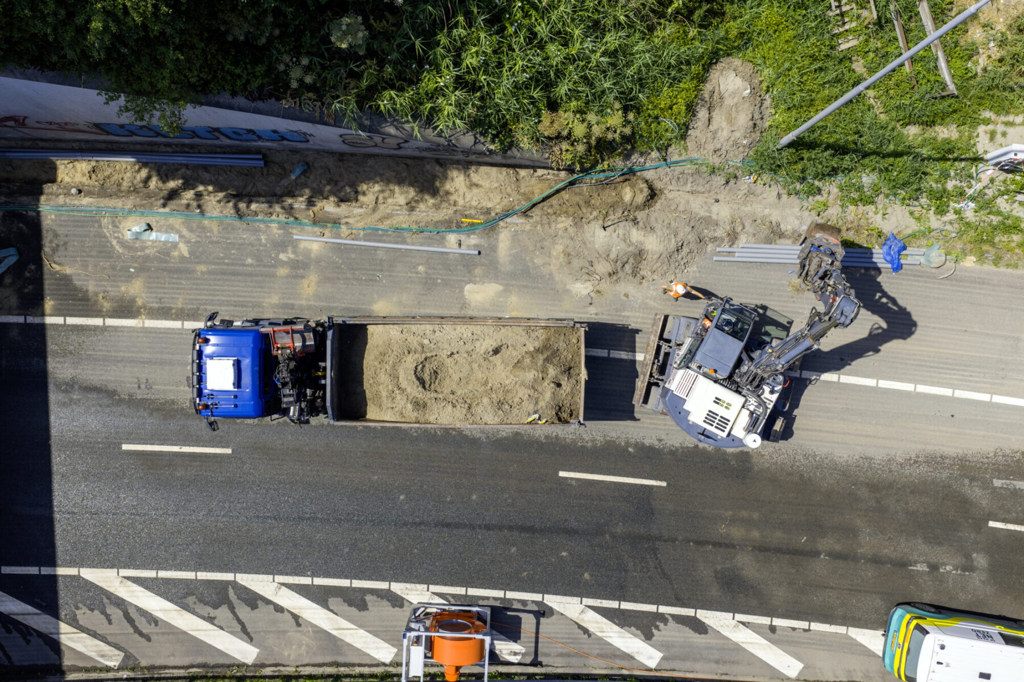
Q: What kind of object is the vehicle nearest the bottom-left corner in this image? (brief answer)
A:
truck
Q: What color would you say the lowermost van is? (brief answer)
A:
white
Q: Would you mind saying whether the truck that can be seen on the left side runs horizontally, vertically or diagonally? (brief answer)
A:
horizontally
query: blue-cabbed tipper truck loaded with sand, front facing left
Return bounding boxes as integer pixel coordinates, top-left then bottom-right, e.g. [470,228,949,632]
[190,312,593,431]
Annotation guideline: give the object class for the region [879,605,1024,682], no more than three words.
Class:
van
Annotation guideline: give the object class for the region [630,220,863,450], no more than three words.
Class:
work vehicle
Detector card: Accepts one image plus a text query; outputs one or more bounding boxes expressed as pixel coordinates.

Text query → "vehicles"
[630,220,863,450]
[879,605,1024,682]
[190,312,593,431]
